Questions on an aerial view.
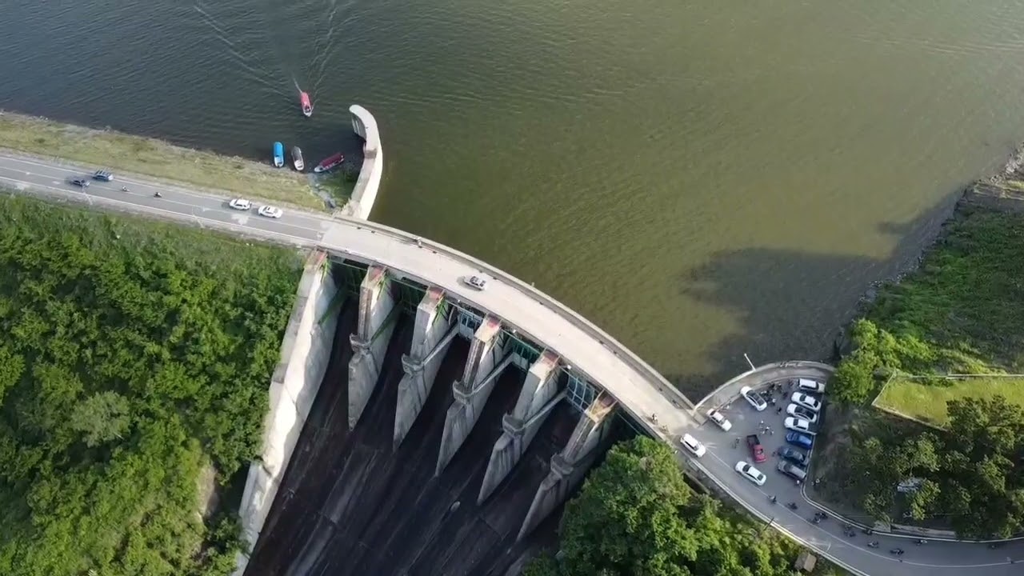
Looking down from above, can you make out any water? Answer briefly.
Yes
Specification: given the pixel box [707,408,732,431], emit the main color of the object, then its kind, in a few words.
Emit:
white car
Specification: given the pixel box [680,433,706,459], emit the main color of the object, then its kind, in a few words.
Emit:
white car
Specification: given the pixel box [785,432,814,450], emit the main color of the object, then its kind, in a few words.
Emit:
blue car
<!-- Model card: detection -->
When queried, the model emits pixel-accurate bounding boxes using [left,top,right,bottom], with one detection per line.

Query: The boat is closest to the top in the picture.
[299,89,311,117]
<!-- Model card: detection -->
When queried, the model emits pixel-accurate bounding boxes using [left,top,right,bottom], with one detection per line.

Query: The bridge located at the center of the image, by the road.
[313,214,696,447]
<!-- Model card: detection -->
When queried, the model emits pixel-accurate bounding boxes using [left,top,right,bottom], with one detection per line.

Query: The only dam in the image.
[218,246,683,576]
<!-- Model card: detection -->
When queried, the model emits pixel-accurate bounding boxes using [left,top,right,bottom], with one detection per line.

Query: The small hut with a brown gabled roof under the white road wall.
[792,545,819,573]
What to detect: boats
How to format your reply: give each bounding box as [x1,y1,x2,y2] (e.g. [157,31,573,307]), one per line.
[272,140,283,168]
[314,153,345,172]
[291,144,302,172]
[299,89,311,117]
